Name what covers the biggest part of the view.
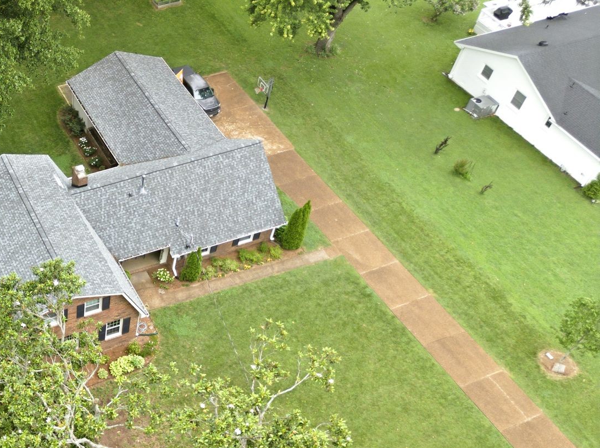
grass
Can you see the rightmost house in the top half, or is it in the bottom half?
top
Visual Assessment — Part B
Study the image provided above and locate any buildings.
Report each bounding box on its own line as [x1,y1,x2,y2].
[0,52,288,369]
[449,5,600,186]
